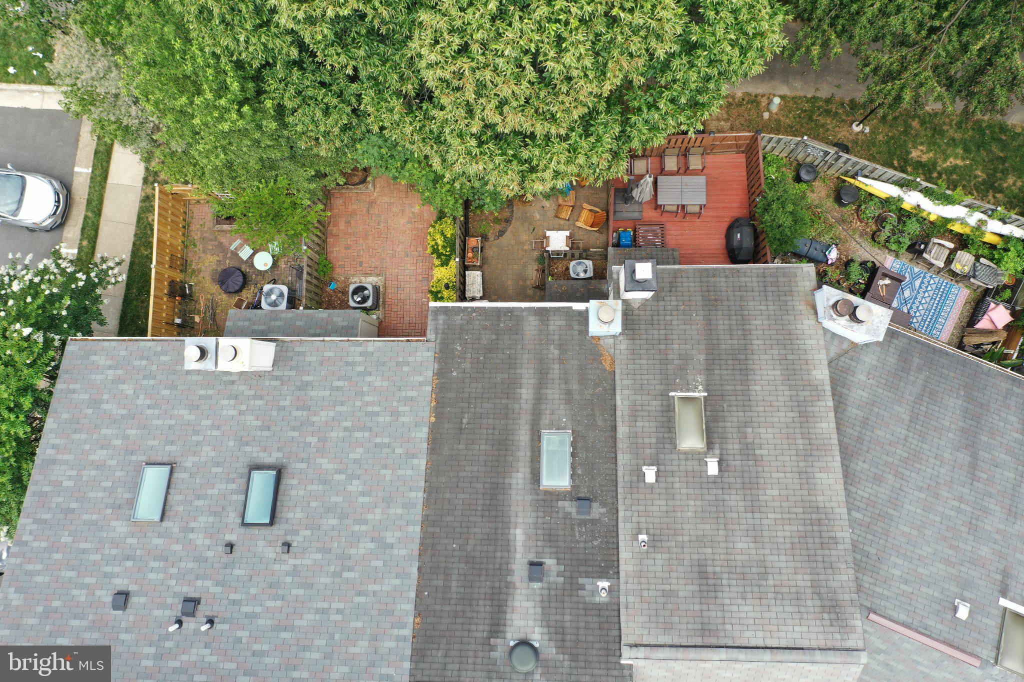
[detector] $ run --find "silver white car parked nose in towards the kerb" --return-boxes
[0,165,71,229]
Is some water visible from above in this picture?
No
